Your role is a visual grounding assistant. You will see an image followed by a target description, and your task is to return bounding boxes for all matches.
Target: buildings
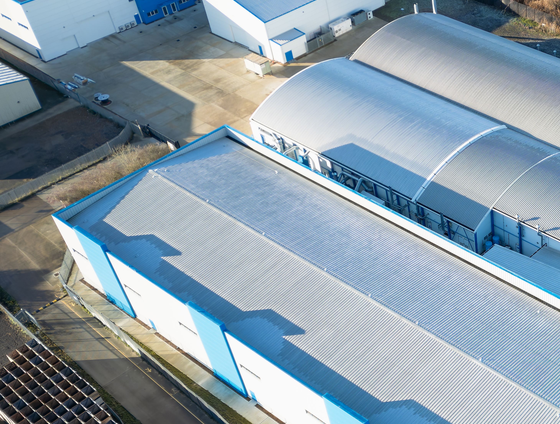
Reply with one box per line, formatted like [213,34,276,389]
[0,61,41,126]
[0,0,199,61]
[244,53,271,77]
[202,0,385,63]
[55,128,560,424]
[350,0,560,147]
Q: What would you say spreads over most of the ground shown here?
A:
buildings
